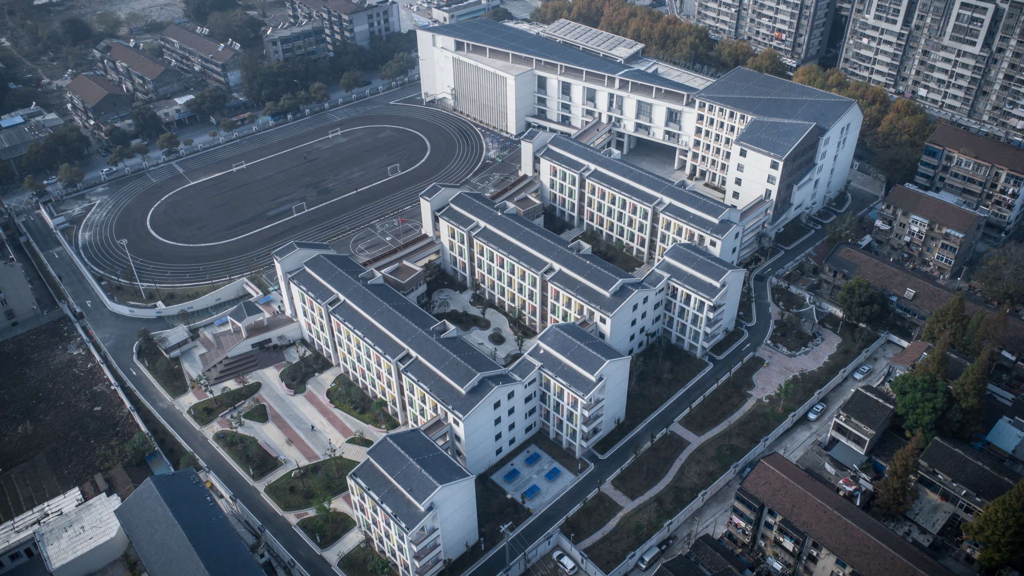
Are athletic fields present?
Yes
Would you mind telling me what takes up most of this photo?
buildings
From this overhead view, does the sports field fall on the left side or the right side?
left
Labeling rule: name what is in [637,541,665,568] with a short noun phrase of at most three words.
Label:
vehicle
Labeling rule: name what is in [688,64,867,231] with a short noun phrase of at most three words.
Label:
building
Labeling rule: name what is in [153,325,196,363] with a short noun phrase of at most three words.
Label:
shed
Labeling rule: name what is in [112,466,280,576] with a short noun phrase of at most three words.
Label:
house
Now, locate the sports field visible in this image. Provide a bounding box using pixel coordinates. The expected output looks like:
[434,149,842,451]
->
[44,78,528,292]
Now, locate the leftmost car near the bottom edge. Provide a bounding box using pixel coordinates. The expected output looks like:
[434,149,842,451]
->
[550,548,577,575]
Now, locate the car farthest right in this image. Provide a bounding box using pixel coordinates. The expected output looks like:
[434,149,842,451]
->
[852,362,873,377]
